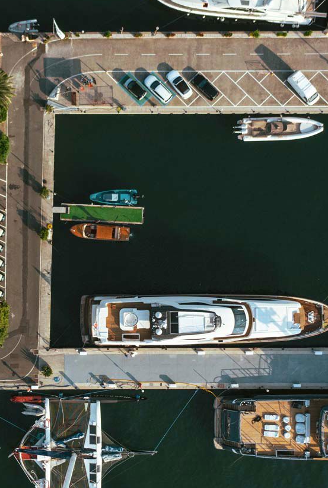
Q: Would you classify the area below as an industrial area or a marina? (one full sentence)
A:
It's a marina.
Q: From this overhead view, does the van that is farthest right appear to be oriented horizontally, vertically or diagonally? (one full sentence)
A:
The van that is farthest right is laid out diagonally.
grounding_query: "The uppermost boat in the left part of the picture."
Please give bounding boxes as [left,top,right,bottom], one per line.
[8,19,39,32]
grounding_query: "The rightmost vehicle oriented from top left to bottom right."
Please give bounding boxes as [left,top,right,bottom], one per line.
[286,69,320,107]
